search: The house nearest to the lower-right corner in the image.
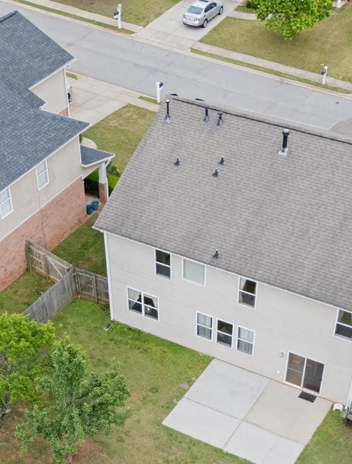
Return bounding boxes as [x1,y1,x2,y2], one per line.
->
[91,98,352,409]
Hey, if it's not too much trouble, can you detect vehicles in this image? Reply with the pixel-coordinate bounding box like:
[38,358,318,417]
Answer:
[185,0,221,25]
